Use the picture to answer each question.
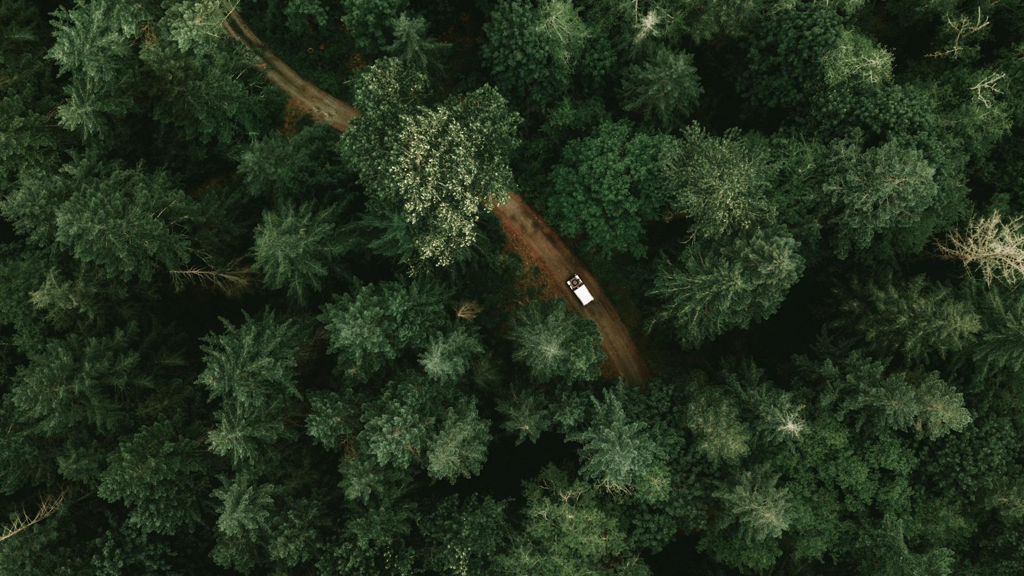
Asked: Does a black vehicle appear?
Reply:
No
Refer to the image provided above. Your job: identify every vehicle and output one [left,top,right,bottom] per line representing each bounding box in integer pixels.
[567,274,594,306]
